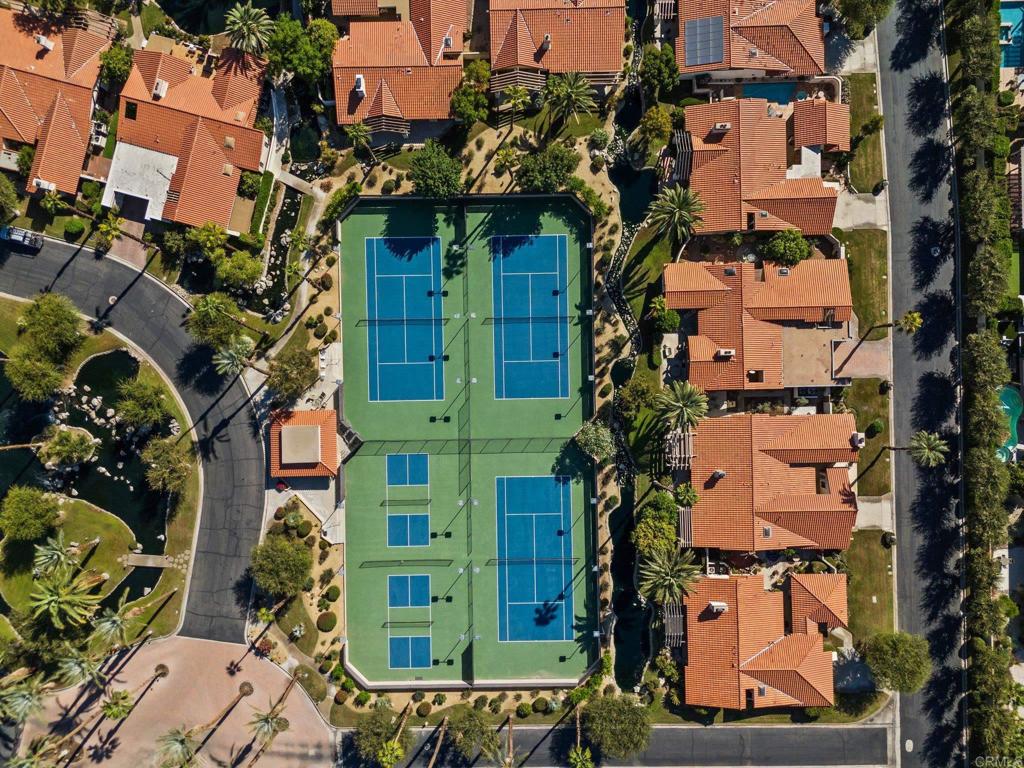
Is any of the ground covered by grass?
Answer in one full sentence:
Yes, grass can be seen from above here.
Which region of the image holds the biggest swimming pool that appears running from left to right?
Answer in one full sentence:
The biggest swimming pool that appears running from left to right is located in the top right region of the scene.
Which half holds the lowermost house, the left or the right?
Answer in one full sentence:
You can find the lowermost house on the right side of the picture.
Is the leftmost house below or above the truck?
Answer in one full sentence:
It's above the truck that the leftmost house shows up.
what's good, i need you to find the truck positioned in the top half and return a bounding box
[0,225,42,249]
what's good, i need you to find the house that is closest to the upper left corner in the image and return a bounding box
[0,8,113,194]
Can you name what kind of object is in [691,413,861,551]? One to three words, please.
house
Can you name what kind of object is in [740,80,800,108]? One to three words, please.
swimming pool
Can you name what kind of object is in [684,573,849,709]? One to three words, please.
house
